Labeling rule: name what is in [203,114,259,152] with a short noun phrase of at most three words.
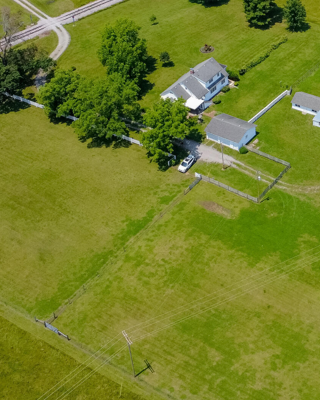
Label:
building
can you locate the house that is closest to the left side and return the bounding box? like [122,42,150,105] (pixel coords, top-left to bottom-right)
[157,57,229,118]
